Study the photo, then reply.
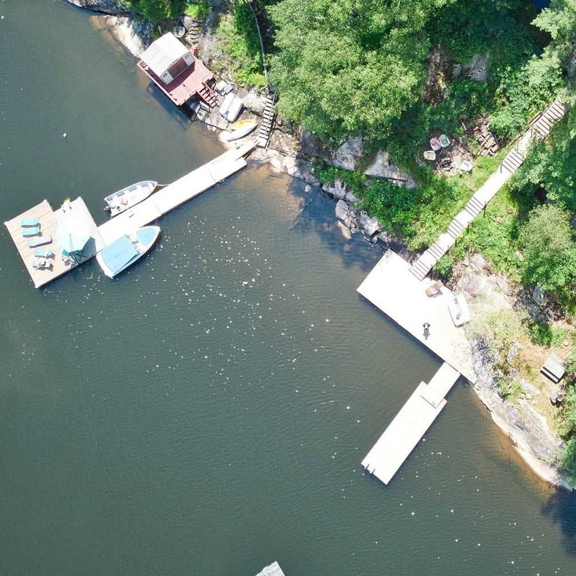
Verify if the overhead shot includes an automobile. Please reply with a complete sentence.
No, I find no automobile anywhere in the image.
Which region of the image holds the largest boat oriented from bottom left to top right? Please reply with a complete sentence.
Look in the left portion of the view to spot the largest boat oriented from bottom left to top right.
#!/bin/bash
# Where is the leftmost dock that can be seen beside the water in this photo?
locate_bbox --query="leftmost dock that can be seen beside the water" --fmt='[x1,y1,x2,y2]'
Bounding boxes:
[2,198,80,289]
